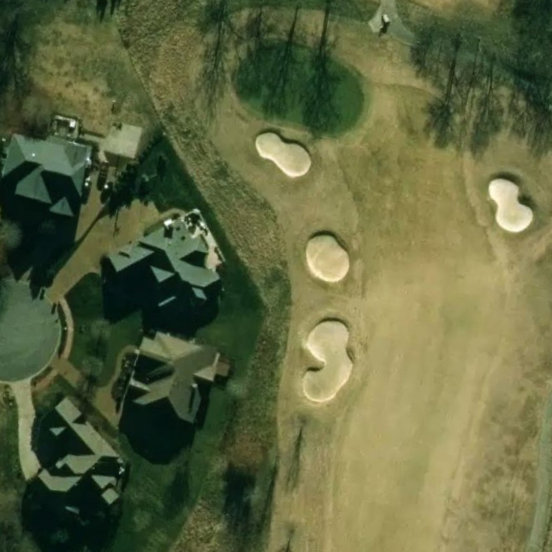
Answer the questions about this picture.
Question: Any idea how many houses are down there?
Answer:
four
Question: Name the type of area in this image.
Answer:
golf course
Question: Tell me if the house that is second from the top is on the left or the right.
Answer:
left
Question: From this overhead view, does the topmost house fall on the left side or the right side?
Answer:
left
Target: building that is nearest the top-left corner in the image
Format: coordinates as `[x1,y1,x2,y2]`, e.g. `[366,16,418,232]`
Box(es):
[2,134,96,217]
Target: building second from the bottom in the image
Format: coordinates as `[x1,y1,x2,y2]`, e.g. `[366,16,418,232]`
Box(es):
[126,336,218,435]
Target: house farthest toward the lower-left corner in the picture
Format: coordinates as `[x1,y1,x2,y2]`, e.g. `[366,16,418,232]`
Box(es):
[25,393,125,519]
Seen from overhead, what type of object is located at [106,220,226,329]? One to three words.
house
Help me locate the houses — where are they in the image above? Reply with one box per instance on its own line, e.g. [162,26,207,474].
[106,220,226,329]
[126,336,218,435]
[25,393,125,519]
[2,134,96,217]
